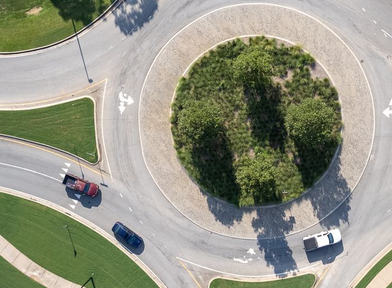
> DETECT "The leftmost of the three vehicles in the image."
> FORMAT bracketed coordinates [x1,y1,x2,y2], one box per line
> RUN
[60,172,100,197]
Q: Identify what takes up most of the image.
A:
paved ground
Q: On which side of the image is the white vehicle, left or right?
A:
right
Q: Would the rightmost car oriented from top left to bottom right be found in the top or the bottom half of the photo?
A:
bottom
